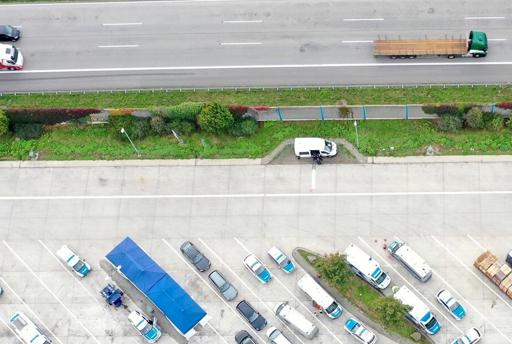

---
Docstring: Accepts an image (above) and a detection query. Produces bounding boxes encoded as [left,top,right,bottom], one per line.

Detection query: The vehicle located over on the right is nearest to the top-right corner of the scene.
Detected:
[374,33,488,61]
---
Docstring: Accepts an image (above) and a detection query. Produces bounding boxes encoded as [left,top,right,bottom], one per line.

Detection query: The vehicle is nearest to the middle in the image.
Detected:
[294,139,337,157]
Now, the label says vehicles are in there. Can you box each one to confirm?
[267,245,298,276]
[207,269,240,304]
[0,44,28,71]
[296,272,344,321]
[393,285,440,335]
[242,253,275,287]
[0,25,22,43]
[344,318,380,344]
[274,301,321,343]
[388,241,433,286]
[342,244,392,290]
[235,329,258,344]
[453,327,482,344]
[8,311,55,344]
[294,139,337,157]
[435,288,468,322]
[235,298,269,333]
[179,240,212,274]
[266,325,293,344]
[128,310,162,344]
[55,244,93,278]
[374,33,488,61]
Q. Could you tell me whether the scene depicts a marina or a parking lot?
parking lot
